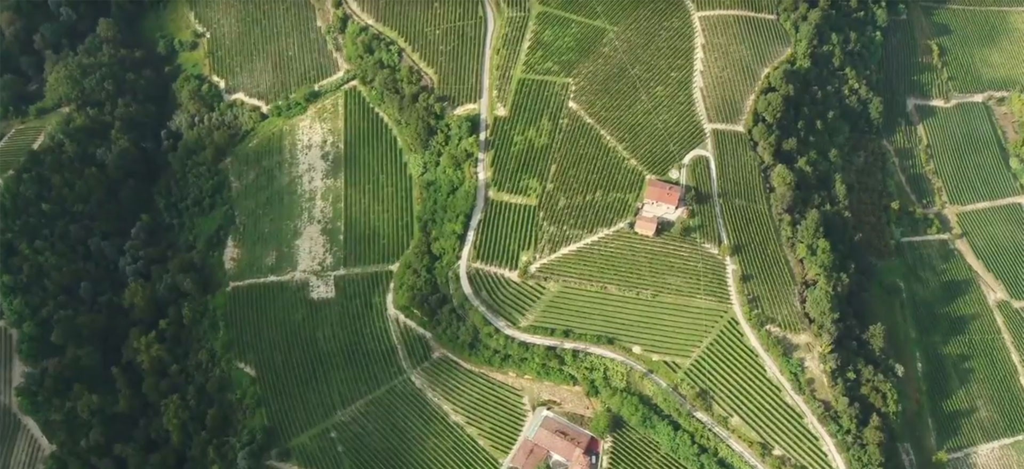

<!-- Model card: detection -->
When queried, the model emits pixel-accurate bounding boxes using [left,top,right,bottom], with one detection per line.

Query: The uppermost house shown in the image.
[642,180,681,212]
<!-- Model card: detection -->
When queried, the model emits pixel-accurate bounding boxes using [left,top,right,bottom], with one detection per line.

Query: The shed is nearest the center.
[635,215,658,237]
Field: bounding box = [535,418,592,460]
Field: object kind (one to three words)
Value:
building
